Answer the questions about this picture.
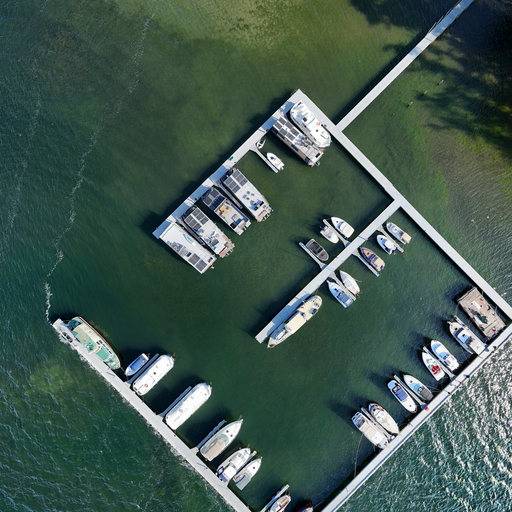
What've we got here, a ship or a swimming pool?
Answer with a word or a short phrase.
ship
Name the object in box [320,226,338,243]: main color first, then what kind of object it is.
white boat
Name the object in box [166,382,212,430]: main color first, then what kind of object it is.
white boat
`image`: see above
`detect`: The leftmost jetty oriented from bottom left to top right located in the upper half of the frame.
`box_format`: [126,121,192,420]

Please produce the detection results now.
[152,88,305,240]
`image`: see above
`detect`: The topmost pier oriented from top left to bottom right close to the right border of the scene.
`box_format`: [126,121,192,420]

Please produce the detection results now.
[386,187,512,320]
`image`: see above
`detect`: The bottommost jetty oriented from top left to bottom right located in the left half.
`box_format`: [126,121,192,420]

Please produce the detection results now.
[52,318,252,512]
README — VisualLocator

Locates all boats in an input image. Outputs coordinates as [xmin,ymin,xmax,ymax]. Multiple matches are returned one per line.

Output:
[218,448,249,482]
[268,153,284,170]
[377,236,395,256]
[200,419,244,460]
[326,280,352,308]
[182,206,234,257]
[266,494,291,512]
[202,188,250,234]
[292,102,331,148]
[300,504,312,512]
[350,408,390,447]
[320,226,338,243]
[432,340,459,371]
[367,402,400,435]
[133,354,176,396]
[330,216,354,239]
[268,296,322,348]
[166,382,212,430]
[222,168,273,222]
[271,117,323,167]
[387,223,412,244]
[162,224,217,273]
[403,374,434,402]
[422,352,444,380]
[306,238,328,260]
[125,352,149,375]
[234,458,262,492]
[447,322,482,356]
[386,380,417,412]
[340,271,364,296]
